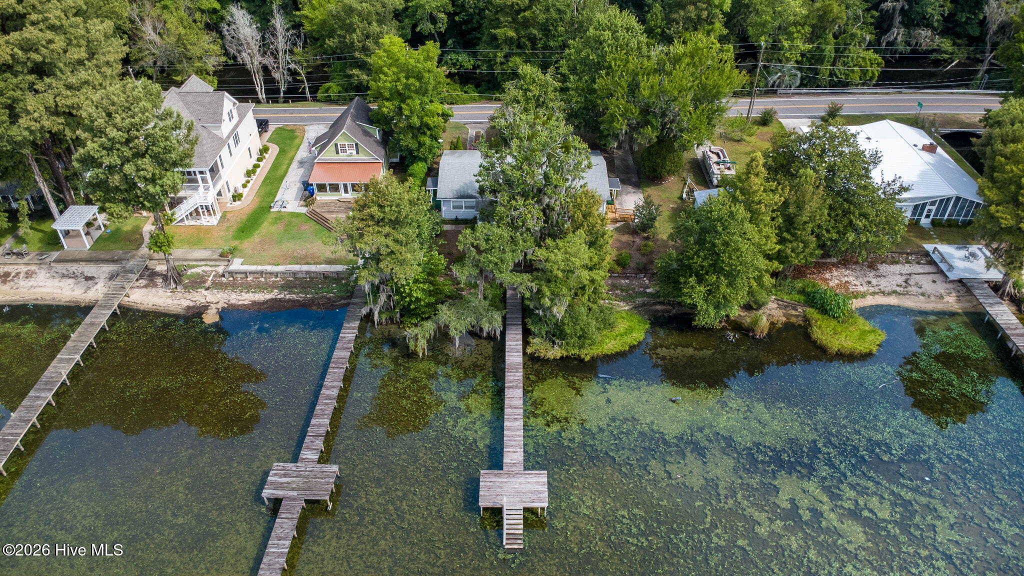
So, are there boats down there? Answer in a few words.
Yes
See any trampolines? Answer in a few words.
No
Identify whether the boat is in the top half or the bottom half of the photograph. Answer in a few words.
top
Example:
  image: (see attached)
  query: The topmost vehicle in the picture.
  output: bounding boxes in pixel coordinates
[256,112,275,135]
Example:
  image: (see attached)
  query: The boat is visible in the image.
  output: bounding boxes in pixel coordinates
[704,145,741,183]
